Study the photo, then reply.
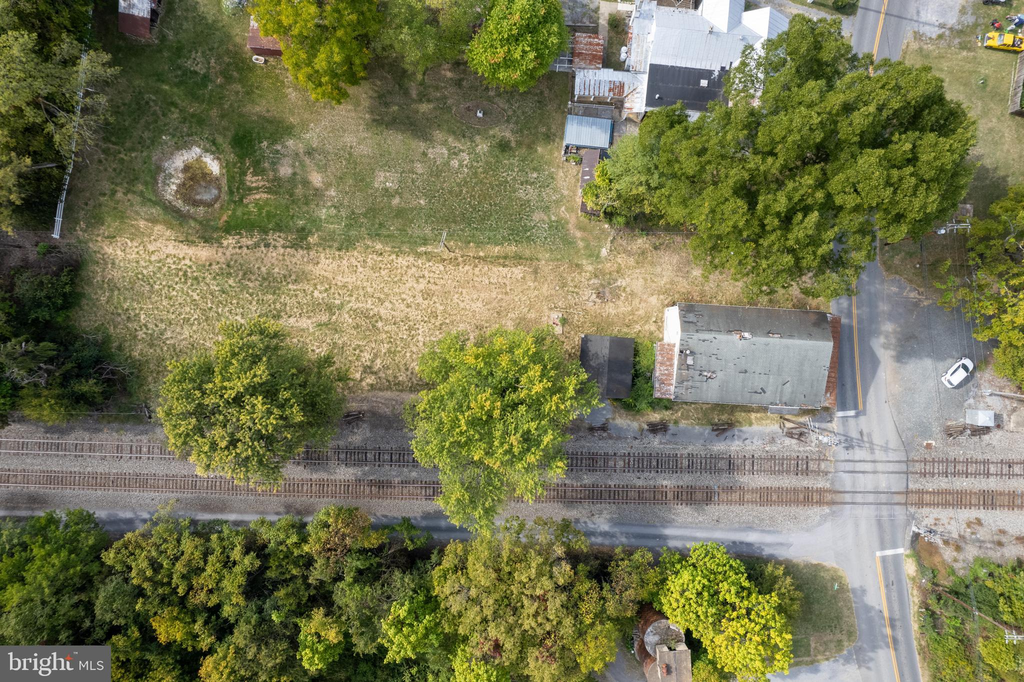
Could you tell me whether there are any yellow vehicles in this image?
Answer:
Yes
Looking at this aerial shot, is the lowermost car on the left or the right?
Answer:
right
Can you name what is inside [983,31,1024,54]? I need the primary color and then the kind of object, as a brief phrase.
yellow truck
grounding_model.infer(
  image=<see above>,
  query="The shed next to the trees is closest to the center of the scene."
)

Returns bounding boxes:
[580,334,634,398]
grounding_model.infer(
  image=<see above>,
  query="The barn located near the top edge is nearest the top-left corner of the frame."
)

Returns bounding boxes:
[118,0,159,44]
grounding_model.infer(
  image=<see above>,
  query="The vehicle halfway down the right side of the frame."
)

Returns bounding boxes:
[940,358,972,390]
